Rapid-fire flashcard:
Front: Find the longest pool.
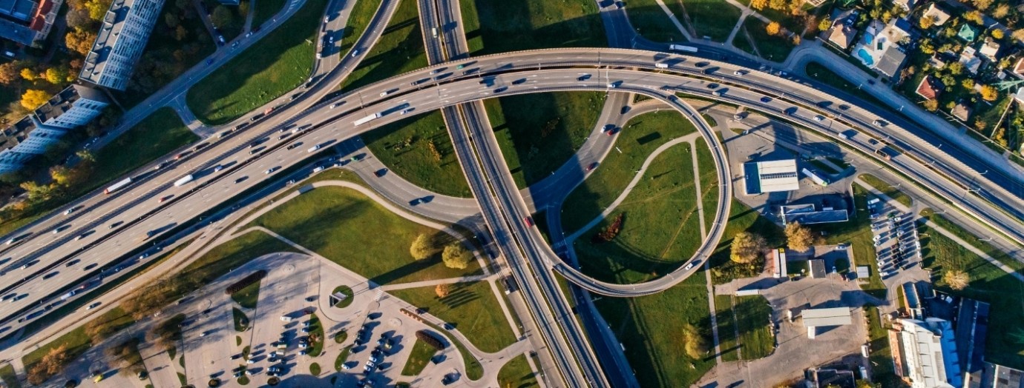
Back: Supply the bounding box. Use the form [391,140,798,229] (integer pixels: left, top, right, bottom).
[858,48,874,65]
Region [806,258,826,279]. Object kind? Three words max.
shed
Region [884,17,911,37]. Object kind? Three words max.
building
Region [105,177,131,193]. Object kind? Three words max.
vehicle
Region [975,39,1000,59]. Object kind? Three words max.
house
